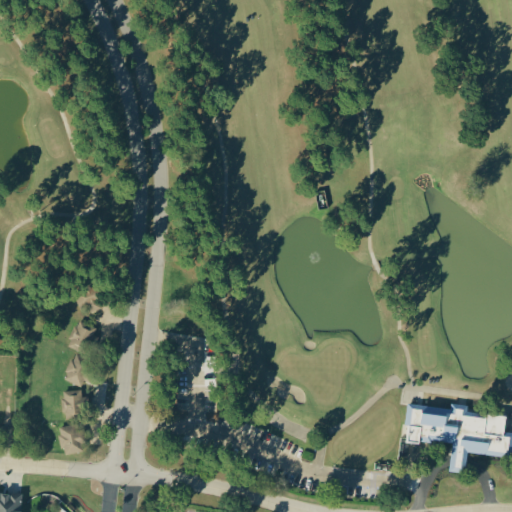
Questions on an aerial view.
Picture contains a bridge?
No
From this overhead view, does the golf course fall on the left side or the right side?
right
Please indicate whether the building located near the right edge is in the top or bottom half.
bottom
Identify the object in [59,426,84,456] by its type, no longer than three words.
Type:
house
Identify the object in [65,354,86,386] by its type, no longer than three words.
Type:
house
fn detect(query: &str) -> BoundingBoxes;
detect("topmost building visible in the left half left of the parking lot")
[64,324,95,352]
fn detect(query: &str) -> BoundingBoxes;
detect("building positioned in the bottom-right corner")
[406,404,512,474]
